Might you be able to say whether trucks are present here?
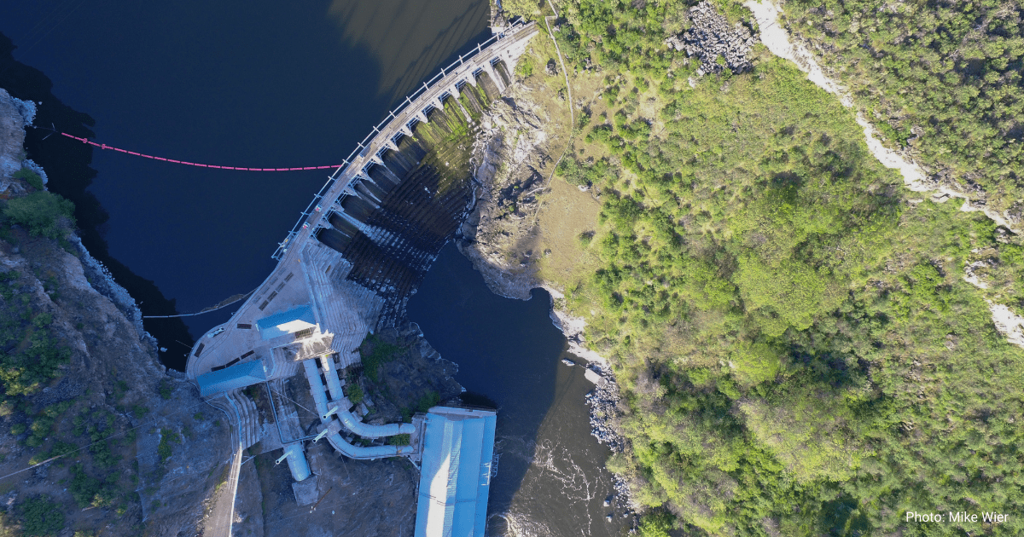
No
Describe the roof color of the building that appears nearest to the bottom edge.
blue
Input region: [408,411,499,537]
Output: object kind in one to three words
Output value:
building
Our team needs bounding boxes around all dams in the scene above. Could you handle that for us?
[185,18,540,537]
